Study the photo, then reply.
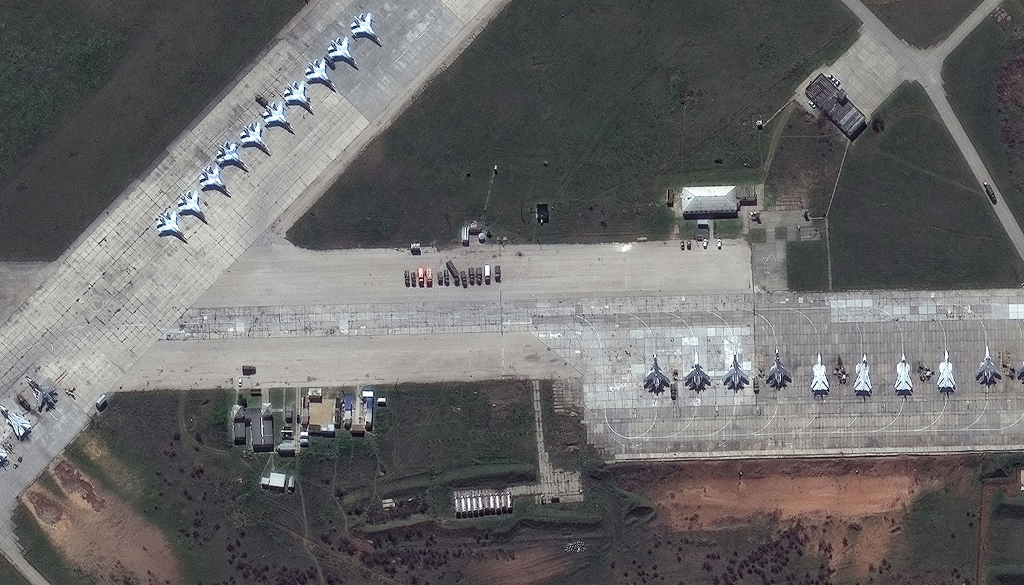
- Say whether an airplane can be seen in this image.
Yes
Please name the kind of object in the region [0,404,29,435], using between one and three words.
airplane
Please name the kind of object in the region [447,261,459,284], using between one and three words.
vehicle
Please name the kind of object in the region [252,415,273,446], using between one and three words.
building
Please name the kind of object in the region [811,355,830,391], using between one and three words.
airplane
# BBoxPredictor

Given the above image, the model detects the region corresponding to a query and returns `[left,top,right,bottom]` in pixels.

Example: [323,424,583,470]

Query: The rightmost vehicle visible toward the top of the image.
[983,181,997,203]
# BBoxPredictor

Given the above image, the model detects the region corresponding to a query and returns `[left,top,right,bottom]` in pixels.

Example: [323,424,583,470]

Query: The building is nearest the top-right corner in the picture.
[804,74,866,136]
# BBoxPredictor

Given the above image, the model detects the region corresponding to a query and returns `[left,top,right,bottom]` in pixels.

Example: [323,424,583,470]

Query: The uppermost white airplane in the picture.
[349,11,381,42]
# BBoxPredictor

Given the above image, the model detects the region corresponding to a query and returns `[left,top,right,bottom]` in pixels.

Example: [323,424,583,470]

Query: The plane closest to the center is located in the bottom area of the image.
[643,354,670,391]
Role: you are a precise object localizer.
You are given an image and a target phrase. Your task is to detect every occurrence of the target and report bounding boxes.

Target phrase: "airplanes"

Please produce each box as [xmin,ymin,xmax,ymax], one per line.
[199,165,231,196]
[239,124,271,155]
[765,351,792,387]
[349,11,381,42]
[895,355,914,392]
[175,192,208,223]
[282,80,314,111]
[304,57,336,89]
[262,100,294,131]
[0,404,29,435]
[326,35,361,68]
[854,357,873,393]
[684,354,711,391]
[938,352,957,388]
[643,354,670,391]
[216,139,249,171]
[28,379,61,412]
[155,210,188,242]
[722,353,749,390]
[974,349,1001,385]
[811,355,830,391]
